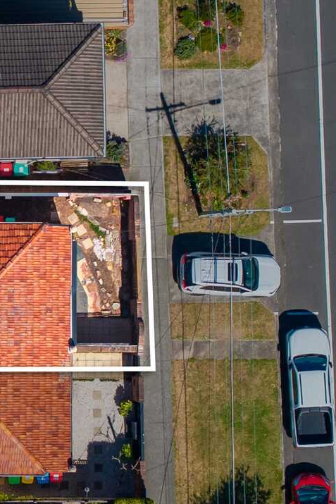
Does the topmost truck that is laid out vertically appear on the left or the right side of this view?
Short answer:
right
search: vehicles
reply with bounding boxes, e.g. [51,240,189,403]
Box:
[284,325,336,447]
[176,250,281,299]
[291,471,336,504]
